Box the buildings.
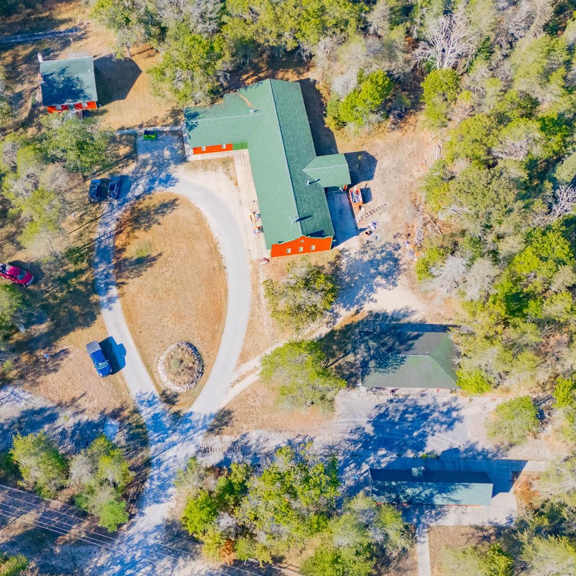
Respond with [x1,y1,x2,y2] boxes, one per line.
[184,80,351,257]
[358,331,460,390]
[369,468,493,507]
[37,50,99,121]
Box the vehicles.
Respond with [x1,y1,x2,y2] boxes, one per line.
[0,261,37,288]
[84,339,113,381]
[105,174,123,204]
[87,178,105,207]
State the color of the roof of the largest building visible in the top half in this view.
green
